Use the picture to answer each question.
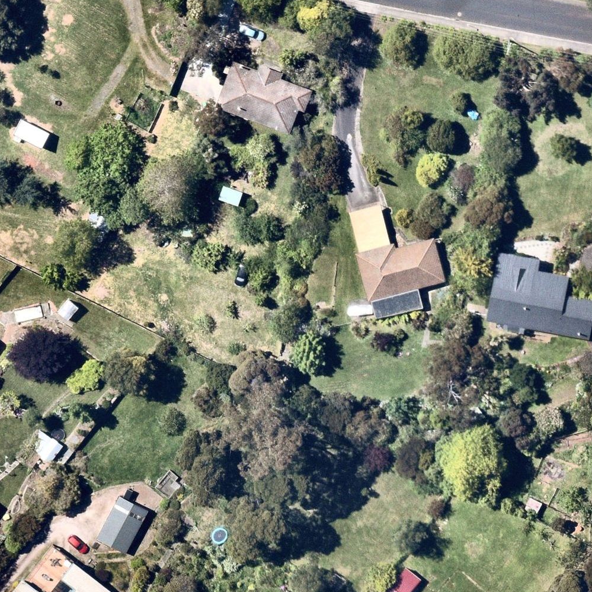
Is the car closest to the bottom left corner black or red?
red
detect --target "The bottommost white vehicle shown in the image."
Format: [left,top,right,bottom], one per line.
[348,304,373,318]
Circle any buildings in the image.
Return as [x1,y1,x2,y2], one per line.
[36,429,63,462]
[525,496,542,513]
[355,239,446,319]
[393,566,421,592]
[219,64,312,134]
[12,544,113,592]
[14,304,42,323]
[219,188,242,207]
[488,252,592,340]
[58,297,79,320]
[14,118,49,150]
[98,493,149,554]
